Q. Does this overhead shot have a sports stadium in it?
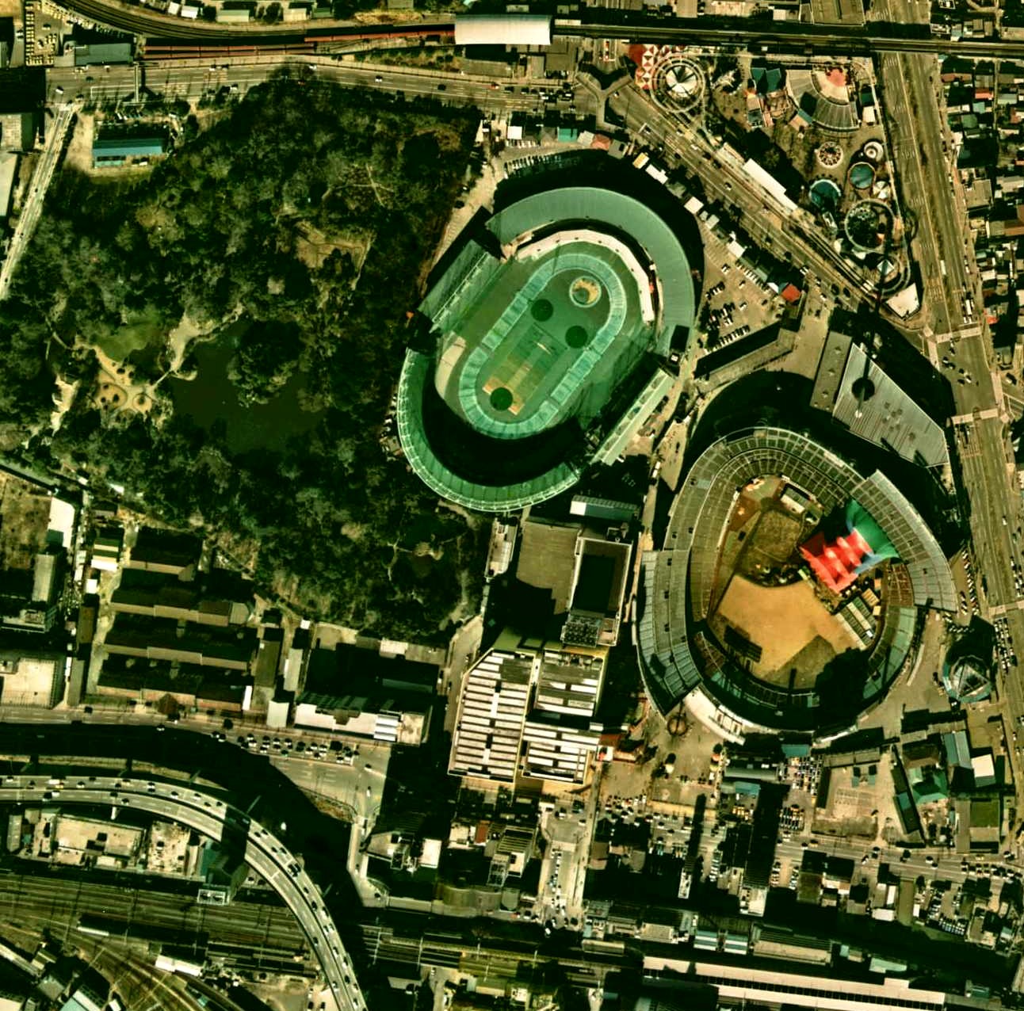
Yes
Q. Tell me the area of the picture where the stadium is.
right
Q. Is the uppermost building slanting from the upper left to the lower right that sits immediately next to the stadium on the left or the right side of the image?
right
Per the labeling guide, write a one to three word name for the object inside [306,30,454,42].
train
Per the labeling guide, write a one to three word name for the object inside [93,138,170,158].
house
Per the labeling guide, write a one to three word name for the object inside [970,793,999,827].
building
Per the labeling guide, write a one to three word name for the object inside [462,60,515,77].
building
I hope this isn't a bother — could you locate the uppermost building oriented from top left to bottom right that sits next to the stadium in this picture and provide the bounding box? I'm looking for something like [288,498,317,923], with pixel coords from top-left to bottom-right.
[833,340,949,469]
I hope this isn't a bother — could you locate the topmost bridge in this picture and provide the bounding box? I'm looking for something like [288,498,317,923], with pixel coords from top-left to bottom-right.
[549,24,1024,57]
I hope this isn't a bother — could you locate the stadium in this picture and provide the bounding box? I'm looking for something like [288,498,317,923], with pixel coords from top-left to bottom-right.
[636,421,958,746]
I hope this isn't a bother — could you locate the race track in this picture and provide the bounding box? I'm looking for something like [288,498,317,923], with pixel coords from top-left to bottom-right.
[396,187,697,512]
